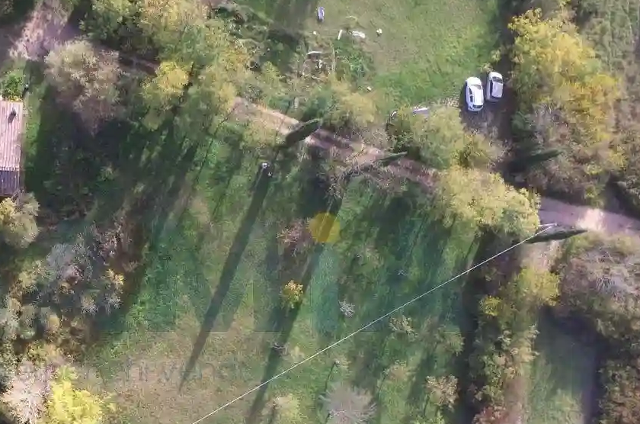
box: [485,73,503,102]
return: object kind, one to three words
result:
car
